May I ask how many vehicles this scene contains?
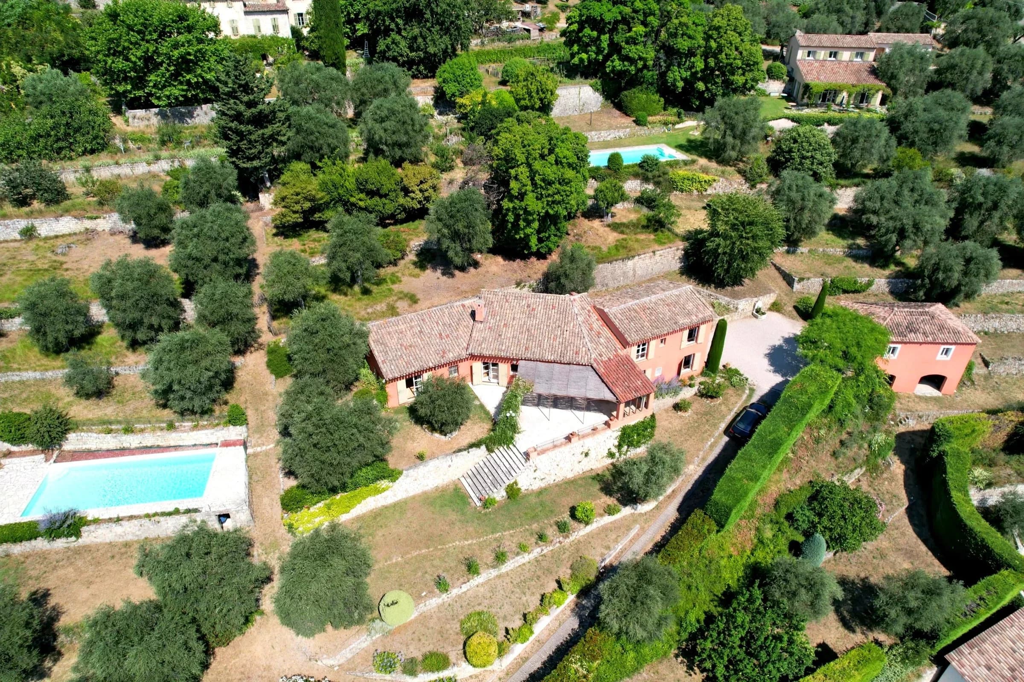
1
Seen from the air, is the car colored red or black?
black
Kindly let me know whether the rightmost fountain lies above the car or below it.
above it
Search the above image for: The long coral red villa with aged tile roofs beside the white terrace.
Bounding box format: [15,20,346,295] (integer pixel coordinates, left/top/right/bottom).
[363,277,713,421]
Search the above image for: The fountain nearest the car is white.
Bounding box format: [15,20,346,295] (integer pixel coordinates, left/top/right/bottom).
[749,301,771,323]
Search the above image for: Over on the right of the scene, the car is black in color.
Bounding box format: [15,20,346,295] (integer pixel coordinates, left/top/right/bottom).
[729,398,771,440]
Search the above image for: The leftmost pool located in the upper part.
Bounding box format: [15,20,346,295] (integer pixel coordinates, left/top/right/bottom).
[571,143,686,174]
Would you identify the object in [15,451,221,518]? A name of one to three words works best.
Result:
swimming pool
